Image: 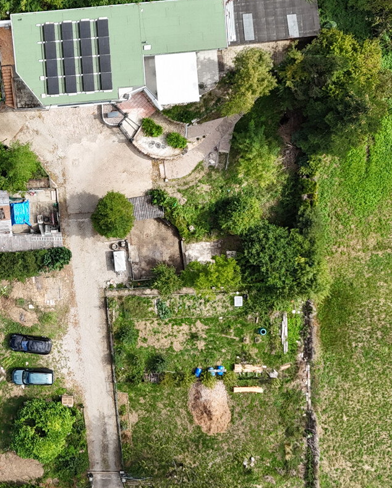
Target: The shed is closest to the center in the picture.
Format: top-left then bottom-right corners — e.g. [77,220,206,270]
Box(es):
[129,195,164,221]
